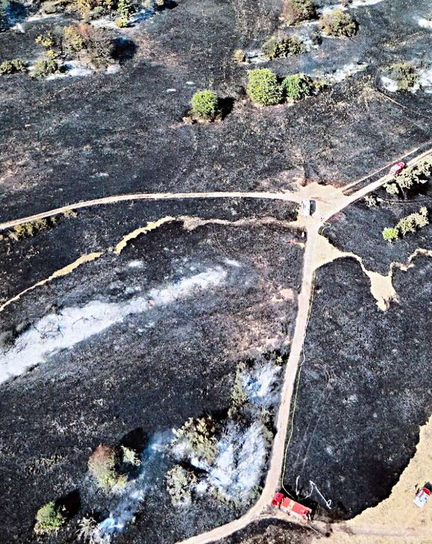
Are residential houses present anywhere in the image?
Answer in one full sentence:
No, the picture doesn't show any residential house.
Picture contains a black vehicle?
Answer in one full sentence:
No, I find no black vehicle anywhere in the image.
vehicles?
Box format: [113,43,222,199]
[272,493,312,523]
[413,483,432,506]
[304,199,310,215]
[391,163,405,171]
